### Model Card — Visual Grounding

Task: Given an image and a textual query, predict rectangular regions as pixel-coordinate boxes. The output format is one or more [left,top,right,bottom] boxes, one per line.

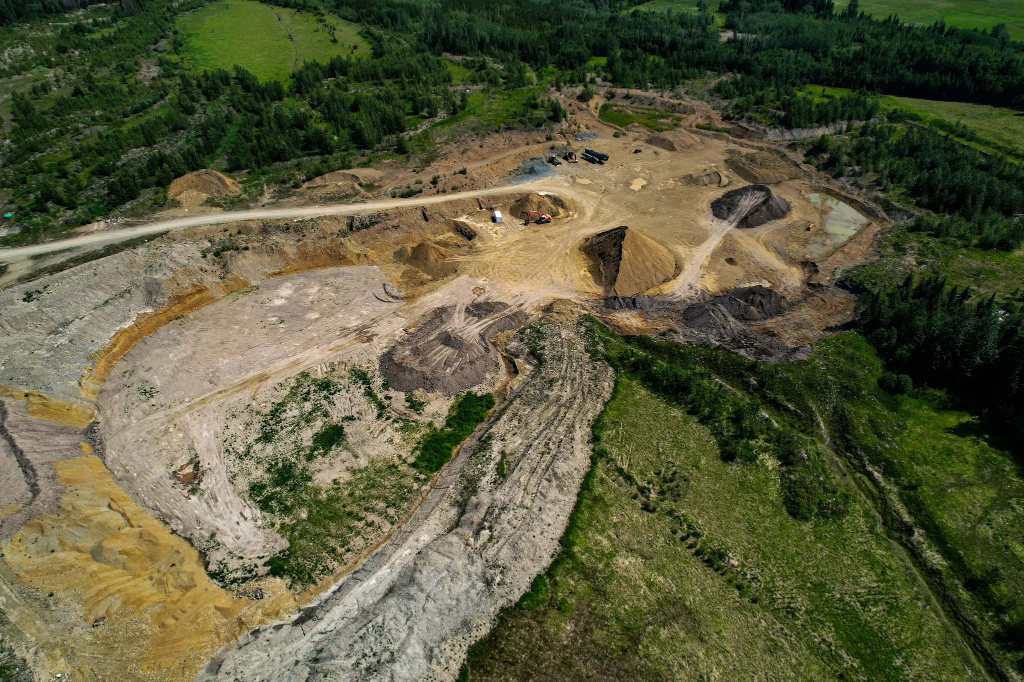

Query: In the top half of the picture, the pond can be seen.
[808,194,869,259]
